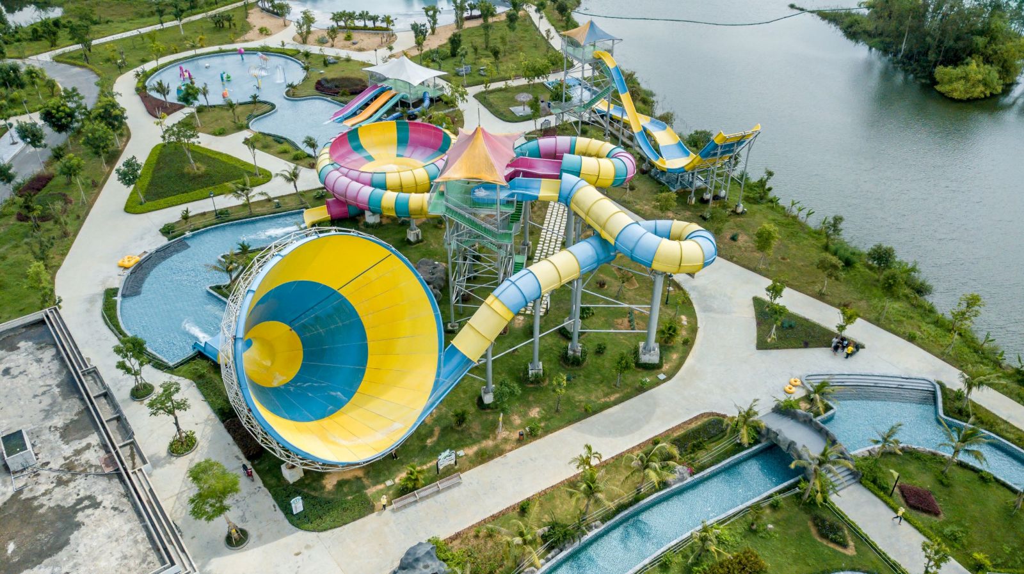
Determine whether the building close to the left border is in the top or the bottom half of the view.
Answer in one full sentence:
The bottom half of the photo is where the building close to the left border is.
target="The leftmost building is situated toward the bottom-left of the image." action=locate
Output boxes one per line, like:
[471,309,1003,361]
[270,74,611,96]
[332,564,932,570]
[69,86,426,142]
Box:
[0,304,203,574]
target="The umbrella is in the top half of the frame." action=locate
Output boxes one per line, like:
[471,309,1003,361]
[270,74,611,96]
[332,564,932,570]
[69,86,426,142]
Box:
[512,92,535,110]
